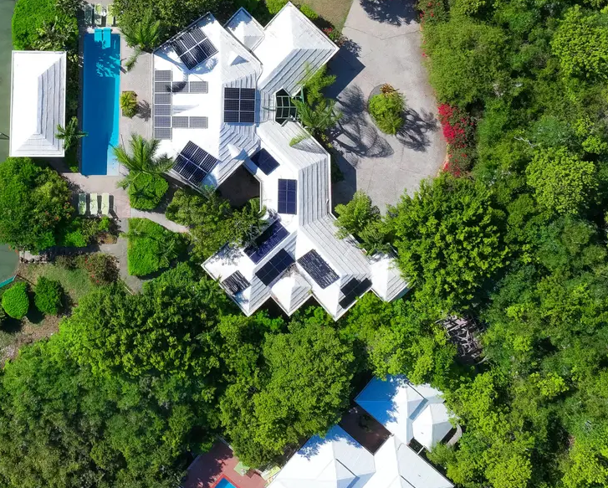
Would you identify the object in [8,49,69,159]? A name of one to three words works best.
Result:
building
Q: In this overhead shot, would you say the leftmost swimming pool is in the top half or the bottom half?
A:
top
